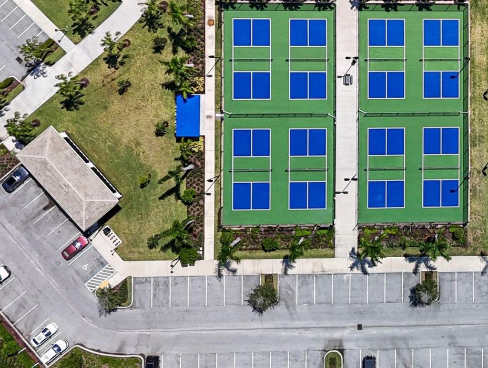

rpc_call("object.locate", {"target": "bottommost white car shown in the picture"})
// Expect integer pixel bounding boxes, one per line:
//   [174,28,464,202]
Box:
[36,340,68,367]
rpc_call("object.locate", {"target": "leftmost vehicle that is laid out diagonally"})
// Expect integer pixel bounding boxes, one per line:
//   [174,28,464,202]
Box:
[0,167,26,193]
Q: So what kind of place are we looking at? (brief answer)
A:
sports ground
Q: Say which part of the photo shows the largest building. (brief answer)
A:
left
